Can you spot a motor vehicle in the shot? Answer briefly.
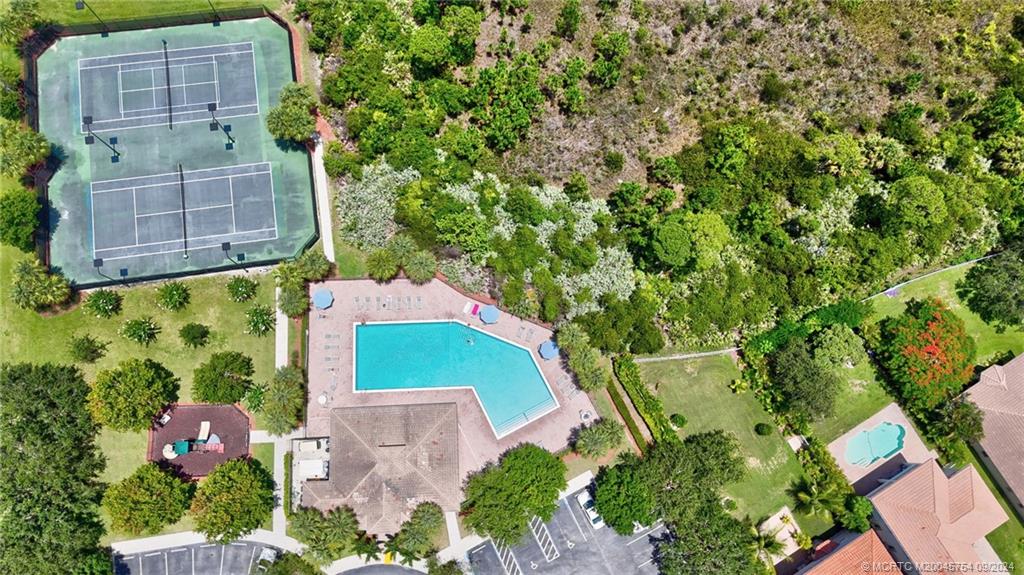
Yes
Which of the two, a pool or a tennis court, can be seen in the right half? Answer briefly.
pool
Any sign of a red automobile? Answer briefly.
No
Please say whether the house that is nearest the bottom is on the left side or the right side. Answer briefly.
right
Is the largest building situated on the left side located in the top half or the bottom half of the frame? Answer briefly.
bottom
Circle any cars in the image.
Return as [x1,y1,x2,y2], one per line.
[250,546,272,575]
[576,491,605,529]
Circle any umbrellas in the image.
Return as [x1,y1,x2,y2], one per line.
[479,305,500,325]
[312,288,333,309]
[539,340,559,361]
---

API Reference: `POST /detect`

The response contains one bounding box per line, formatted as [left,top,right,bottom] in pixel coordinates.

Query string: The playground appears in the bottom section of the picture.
[147,402,254,478]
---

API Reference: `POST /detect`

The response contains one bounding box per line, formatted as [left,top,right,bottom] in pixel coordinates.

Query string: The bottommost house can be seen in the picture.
[795,529,903,575]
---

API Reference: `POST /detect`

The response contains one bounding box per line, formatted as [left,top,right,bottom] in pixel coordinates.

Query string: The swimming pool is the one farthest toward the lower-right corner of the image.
[846,421,908,468]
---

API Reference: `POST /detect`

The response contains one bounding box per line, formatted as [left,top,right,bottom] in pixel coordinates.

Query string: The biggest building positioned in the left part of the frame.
[302,403,461,538]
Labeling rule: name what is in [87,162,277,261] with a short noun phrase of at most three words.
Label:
tennis court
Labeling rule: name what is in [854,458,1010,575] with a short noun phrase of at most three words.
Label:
house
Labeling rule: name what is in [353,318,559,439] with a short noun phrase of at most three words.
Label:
swimming pool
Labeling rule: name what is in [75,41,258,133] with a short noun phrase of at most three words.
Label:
tennis court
